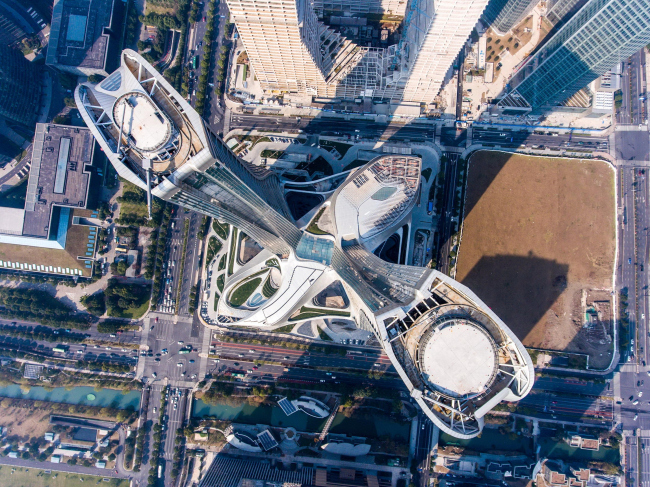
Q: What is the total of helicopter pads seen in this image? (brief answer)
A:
2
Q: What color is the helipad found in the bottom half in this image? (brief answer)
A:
white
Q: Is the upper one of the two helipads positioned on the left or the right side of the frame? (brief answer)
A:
left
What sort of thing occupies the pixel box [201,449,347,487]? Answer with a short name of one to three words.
building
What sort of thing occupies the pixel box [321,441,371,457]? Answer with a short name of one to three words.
building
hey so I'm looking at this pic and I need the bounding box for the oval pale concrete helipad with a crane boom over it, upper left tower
[109,88,182,157]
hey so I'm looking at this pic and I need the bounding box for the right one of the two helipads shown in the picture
[415,317,498,399]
